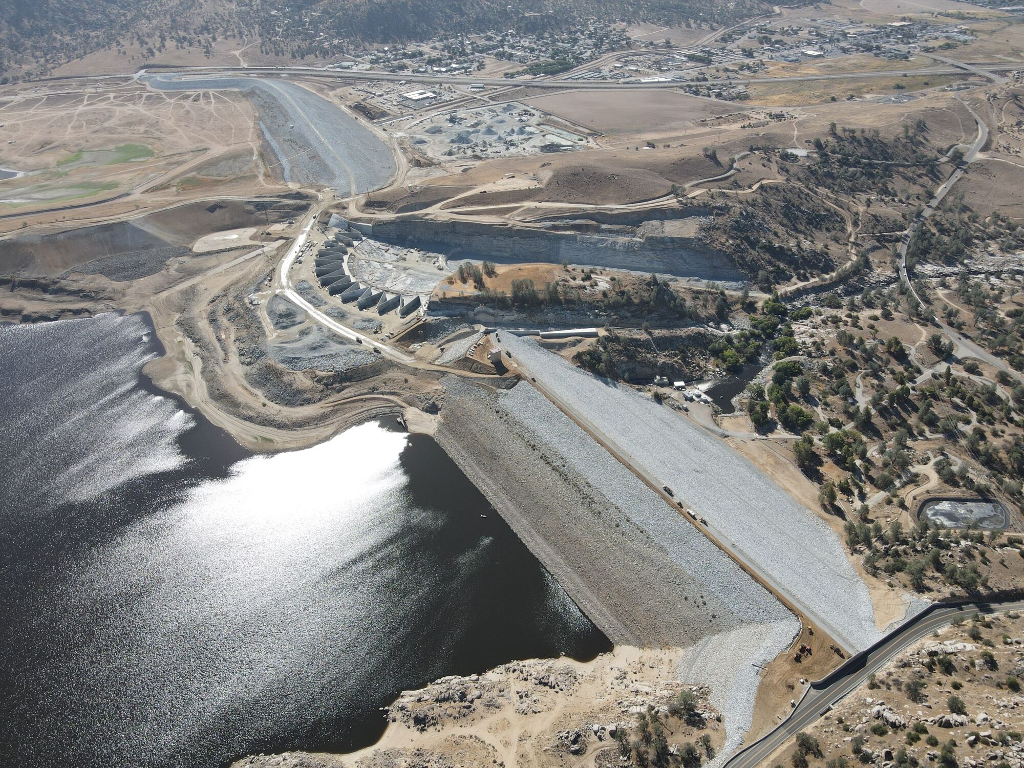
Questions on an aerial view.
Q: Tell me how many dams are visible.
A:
three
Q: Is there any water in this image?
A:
Yes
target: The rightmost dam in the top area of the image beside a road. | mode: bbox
[315,228,424,317]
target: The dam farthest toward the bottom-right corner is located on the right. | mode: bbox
[435,332,885,660]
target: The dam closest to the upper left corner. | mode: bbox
[146,74,397,197]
